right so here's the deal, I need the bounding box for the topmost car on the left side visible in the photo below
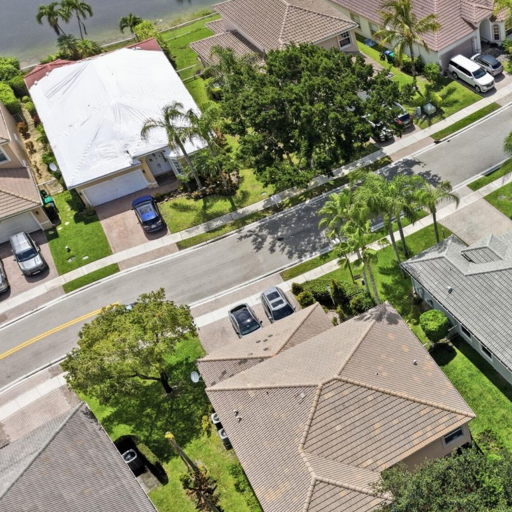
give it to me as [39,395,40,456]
[132,194,168,236]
